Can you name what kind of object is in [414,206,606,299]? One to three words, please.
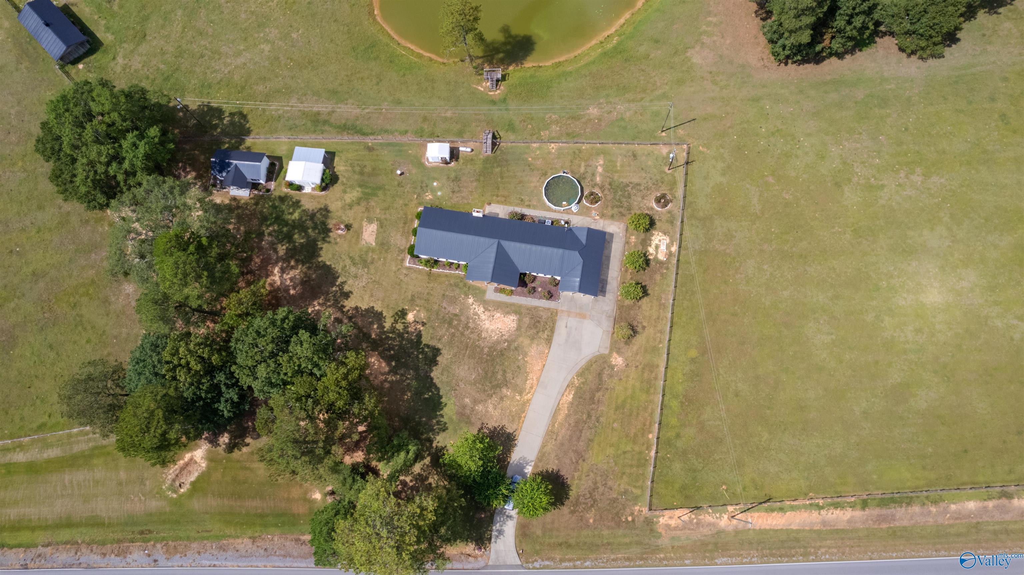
house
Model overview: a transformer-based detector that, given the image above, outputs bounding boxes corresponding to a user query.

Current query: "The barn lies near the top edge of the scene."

[17,0,92,66]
